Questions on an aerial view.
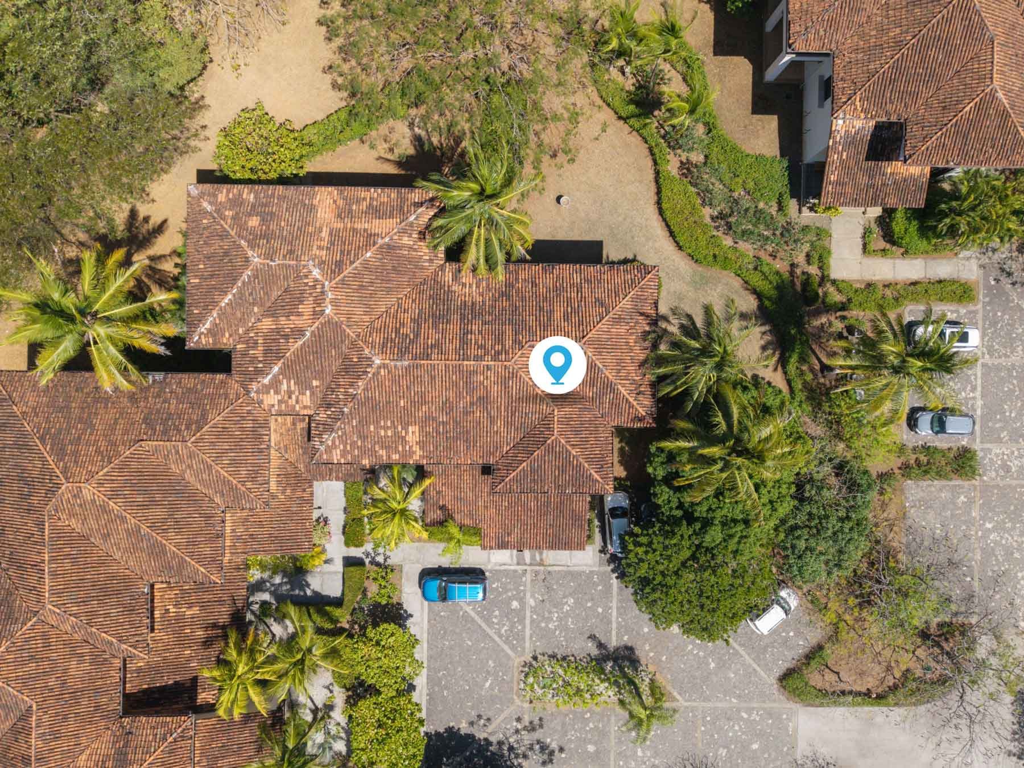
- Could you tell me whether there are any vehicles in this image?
Yes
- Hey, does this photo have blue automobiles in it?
Yes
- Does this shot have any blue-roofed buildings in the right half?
No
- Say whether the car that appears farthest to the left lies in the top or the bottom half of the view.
bottom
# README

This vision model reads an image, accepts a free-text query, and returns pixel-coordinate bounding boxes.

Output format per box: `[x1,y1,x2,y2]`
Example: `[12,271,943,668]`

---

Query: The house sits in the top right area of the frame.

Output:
[760,0,1024,210]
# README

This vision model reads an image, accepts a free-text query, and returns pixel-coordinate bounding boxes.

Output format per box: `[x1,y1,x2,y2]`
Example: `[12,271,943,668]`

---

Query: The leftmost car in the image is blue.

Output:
[424,572,489,606]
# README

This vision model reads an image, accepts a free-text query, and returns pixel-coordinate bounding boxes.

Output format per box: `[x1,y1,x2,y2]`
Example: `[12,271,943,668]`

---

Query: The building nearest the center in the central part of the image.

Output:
[185,184,660,551]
